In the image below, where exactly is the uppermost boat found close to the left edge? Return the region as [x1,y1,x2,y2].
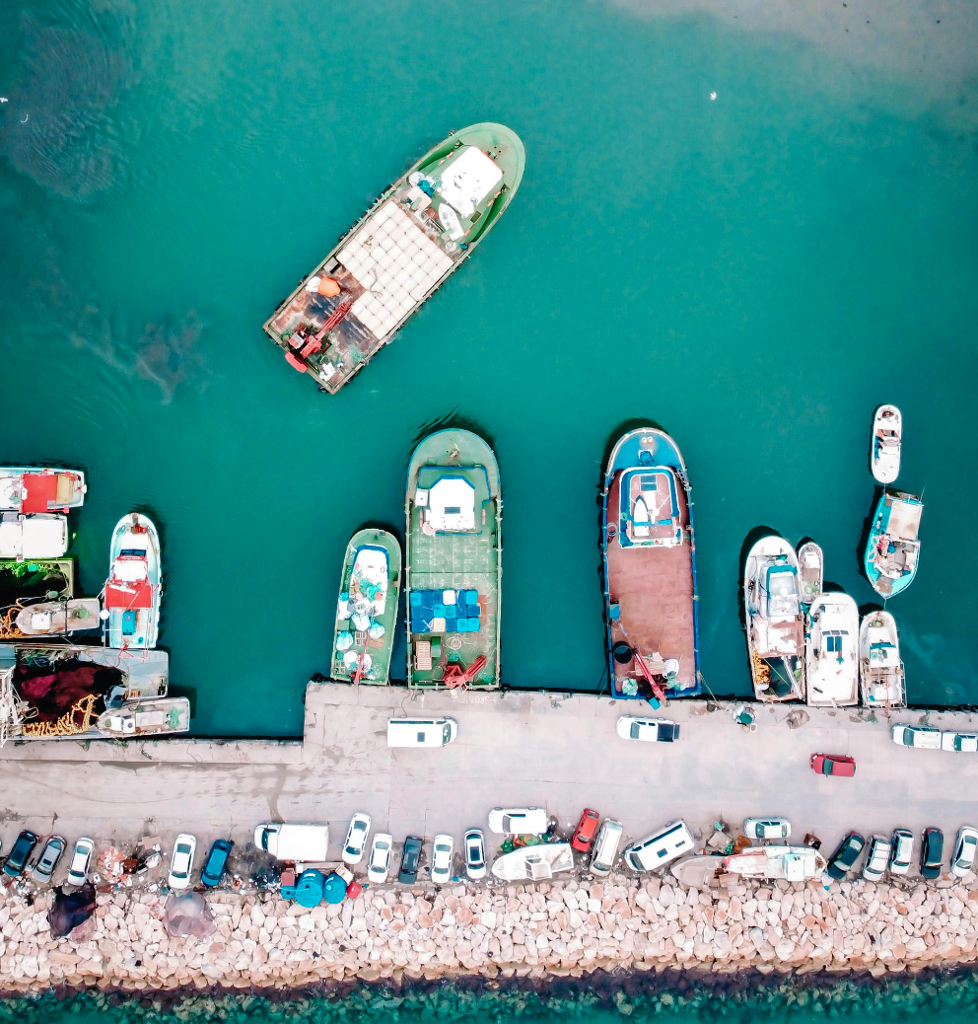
[0,467,87,513]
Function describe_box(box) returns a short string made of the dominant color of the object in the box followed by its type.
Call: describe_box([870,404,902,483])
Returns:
white boat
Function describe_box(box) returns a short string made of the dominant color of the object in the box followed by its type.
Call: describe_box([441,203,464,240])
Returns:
white boat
